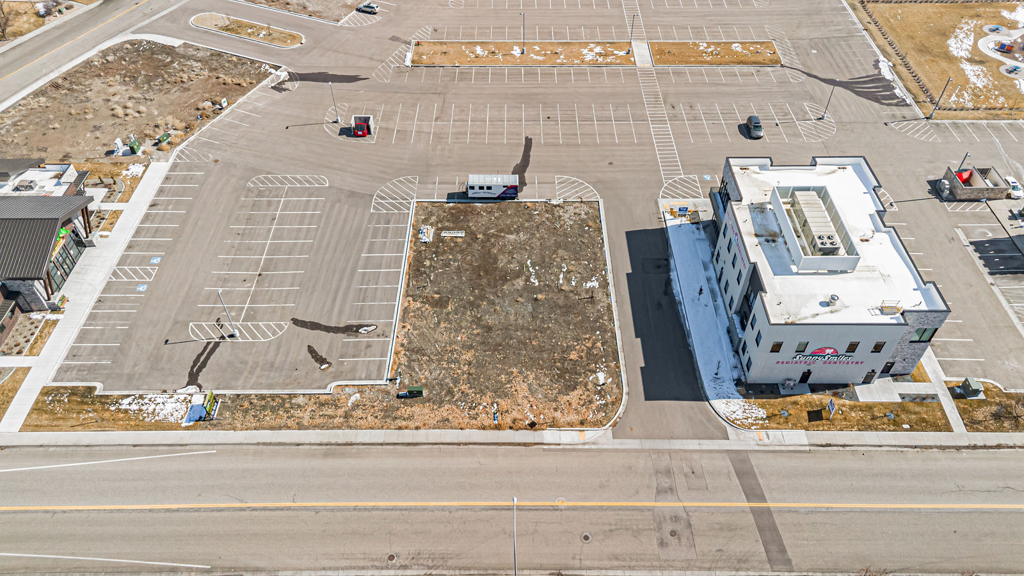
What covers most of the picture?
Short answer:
paved ground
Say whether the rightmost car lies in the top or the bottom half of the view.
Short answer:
top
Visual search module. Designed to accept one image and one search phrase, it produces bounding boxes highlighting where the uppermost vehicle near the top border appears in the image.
[355,1,381,13]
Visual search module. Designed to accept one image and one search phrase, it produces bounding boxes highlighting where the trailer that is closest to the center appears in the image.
[460,170,521,199]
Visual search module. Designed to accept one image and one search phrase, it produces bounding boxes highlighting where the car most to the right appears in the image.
[1003,173,1024,199]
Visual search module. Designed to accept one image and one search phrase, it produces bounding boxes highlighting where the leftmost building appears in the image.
[0,147,101,332]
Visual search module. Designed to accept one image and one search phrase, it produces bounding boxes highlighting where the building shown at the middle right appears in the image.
[704,156,950,383]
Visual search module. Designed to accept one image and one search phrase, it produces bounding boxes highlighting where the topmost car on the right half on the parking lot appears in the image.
[747,113,767,137]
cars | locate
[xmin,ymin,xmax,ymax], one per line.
[1003,173,1024,199]
[747,113,767,137]
[355,1,381,13]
